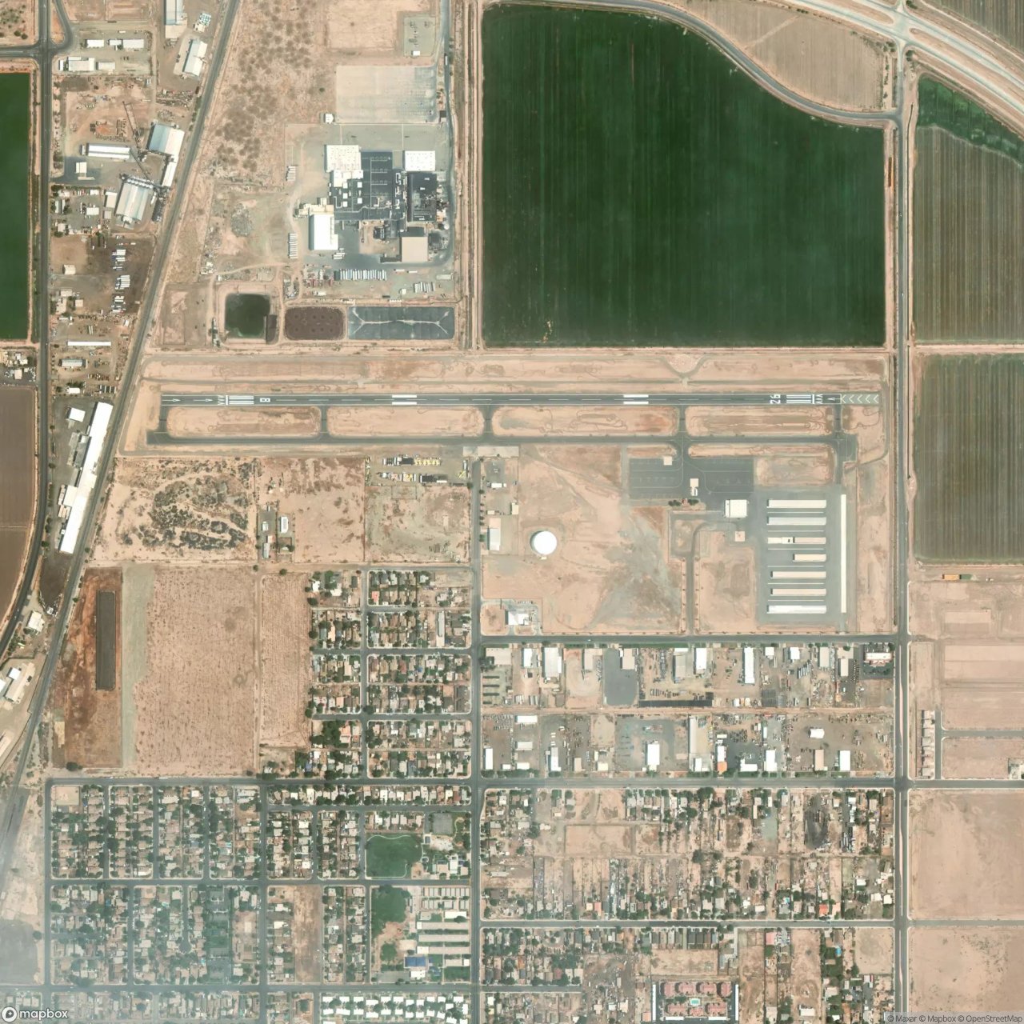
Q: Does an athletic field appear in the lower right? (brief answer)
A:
No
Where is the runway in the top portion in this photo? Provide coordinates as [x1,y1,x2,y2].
[162,393,880,407]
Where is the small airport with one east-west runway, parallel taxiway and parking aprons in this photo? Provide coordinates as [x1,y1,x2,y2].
[147,393,880,622]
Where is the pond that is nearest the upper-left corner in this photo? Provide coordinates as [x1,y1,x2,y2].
[222,290,273,343]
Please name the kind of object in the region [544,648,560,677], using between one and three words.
building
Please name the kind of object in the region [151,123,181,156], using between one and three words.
building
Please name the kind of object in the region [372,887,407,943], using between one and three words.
sports field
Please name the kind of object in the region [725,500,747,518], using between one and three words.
hangar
